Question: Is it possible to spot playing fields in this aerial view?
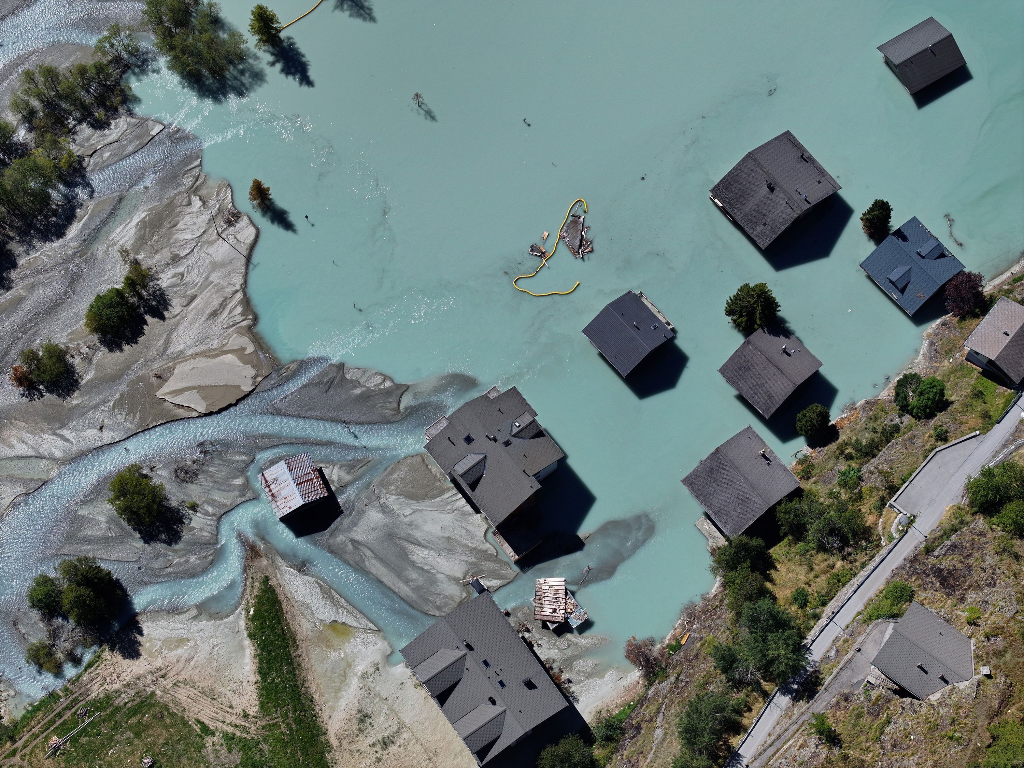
No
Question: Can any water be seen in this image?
Yes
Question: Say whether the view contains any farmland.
No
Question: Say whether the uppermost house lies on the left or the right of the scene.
right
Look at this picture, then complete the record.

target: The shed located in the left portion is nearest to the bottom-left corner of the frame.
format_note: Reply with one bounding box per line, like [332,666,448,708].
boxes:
[258,452,328,519]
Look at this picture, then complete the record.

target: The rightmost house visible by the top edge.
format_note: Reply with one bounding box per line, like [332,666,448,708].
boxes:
[876,16,967,96]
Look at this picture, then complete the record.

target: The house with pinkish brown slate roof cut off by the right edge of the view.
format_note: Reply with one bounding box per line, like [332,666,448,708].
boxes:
[956,295,1024,389]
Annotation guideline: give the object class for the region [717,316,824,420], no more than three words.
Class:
house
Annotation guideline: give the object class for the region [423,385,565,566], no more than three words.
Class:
house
